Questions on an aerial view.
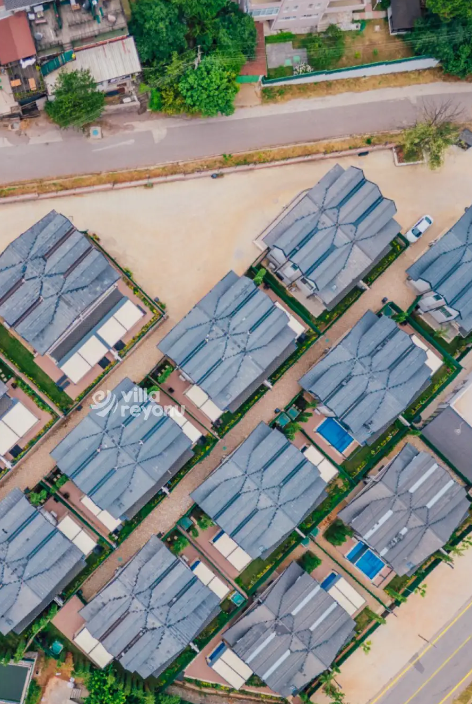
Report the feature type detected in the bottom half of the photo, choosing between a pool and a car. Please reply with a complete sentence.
There is a pool in the bottom half of the photo.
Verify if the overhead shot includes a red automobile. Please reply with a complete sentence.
No, there isn't any red automobile down there.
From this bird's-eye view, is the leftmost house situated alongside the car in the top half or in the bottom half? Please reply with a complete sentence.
Seen from above, the leftmost house situated alongside the car lies in the top half of the view.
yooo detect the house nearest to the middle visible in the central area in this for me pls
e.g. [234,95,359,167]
[159,272,296,412]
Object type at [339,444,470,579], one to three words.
house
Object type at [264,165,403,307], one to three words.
house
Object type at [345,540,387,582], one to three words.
swimming pool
